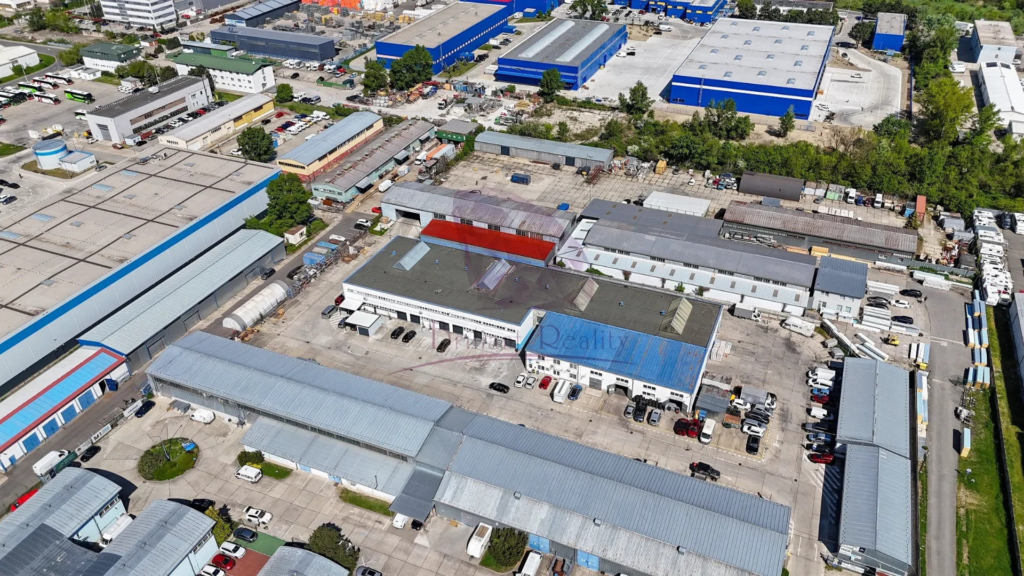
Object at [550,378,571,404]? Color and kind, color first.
white truck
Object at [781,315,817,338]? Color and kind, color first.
white camper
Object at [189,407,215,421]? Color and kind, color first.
white vehicle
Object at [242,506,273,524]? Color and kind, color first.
white car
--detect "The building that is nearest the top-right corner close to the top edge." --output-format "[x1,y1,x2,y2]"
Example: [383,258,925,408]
[971,19,1019,64]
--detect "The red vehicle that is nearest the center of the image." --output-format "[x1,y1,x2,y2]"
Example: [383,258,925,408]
[536,374,552,391]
